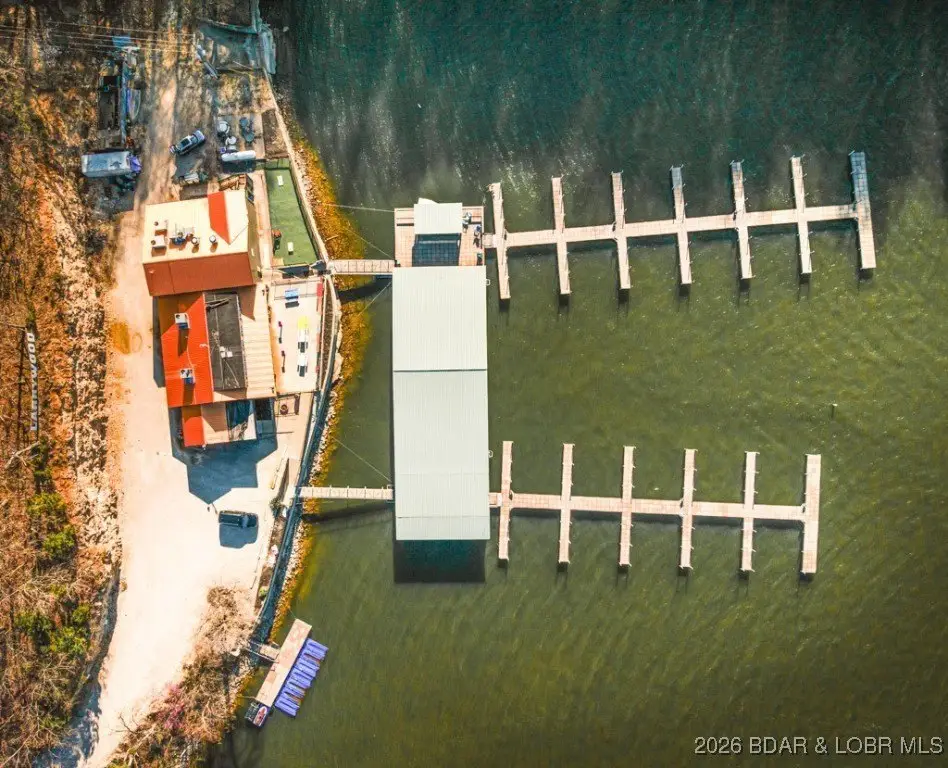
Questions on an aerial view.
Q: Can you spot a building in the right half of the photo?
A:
No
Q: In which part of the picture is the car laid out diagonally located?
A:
top left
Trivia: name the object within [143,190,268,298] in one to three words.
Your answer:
building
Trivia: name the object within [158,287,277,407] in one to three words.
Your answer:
building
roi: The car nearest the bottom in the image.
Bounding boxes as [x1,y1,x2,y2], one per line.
[217,512,258,531]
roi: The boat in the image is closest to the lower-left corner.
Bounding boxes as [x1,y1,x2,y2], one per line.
[253,703,266,726]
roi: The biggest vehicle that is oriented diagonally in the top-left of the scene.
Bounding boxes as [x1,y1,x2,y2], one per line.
[167,127,206,156]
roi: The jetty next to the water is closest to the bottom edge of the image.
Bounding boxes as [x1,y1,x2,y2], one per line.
[255,618,314,708]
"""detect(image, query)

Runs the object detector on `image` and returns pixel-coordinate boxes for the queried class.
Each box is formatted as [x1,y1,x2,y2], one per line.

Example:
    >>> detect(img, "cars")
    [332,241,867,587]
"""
[217,512,258,531]
[167,127,206,156]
